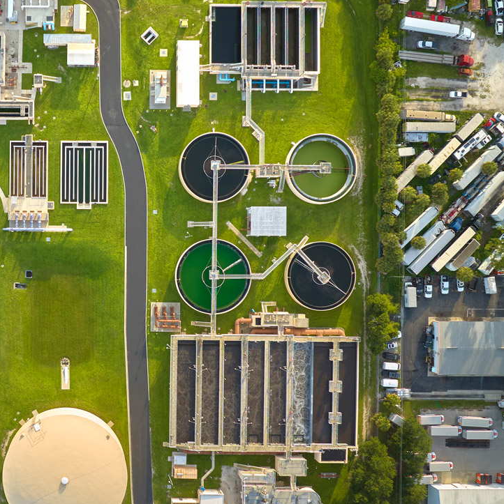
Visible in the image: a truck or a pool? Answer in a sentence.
Looking from above, you can make out a truck.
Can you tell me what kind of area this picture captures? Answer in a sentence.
What you see here is an industrial area.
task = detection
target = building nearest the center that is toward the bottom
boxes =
[249,306,309,327]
